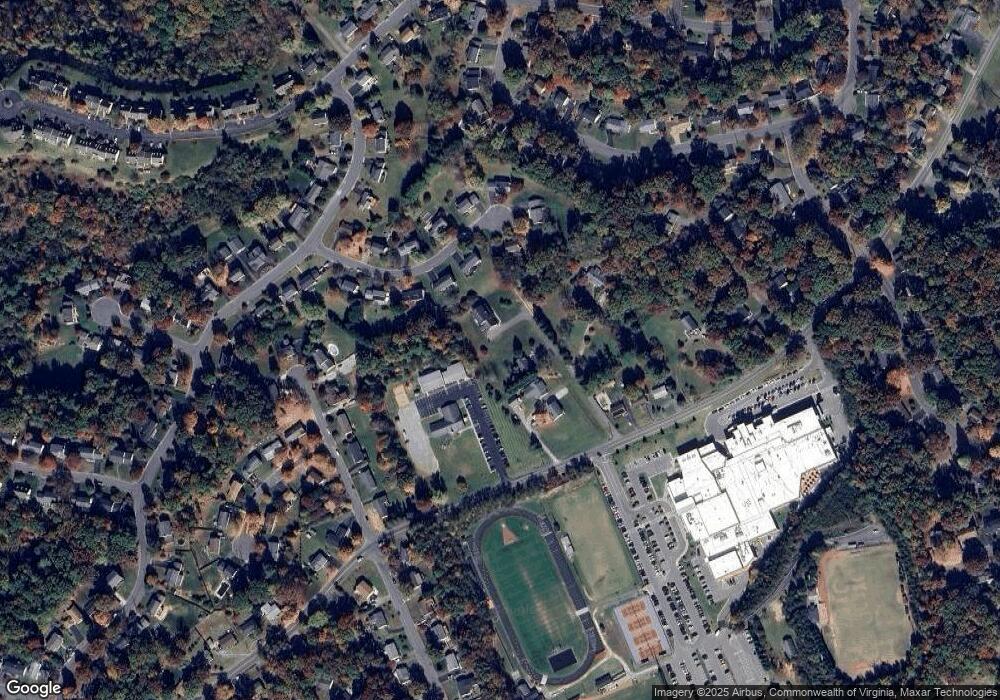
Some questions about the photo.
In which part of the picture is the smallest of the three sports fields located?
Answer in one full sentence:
The smallest of the three sports fields is located in the bottom region of the scene.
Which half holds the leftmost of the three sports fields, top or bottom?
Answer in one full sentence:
The bottom half of the photo is where the leftmost of the three sports fields is.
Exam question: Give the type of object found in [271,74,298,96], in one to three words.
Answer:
house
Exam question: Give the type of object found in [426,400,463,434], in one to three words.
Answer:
building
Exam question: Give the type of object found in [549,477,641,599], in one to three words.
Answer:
sports field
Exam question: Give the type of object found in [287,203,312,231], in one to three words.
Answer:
house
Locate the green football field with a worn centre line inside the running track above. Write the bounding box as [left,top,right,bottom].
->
[485,517,587,677]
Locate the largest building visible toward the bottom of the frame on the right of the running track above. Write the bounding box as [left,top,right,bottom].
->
[668,407,838,579]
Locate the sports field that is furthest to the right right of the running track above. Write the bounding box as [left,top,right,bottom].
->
[818,542,912,677]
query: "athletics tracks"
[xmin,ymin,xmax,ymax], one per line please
[476,507,609,687]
